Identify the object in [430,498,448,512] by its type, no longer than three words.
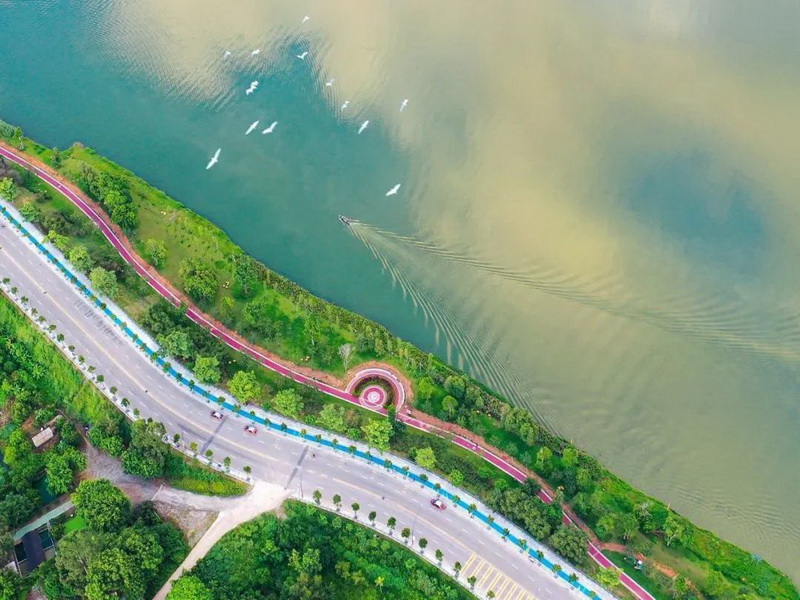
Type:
car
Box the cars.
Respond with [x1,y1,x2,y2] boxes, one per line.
[242,425,258,435]
[430,498,448,512]
[209,409,224,420]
